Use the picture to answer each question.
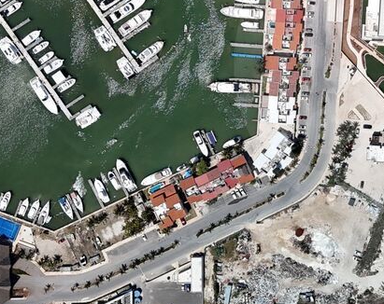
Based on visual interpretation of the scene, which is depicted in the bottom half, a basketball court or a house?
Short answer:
house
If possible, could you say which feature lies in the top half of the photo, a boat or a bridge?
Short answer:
boat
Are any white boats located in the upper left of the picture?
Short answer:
Yes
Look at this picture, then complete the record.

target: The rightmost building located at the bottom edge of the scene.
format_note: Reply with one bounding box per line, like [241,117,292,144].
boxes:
[177,254,206,292]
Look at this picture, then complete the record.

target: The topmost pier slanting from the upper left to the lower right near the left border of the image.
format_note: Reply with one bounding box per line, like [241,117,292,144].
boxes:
[0,13,74,121]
